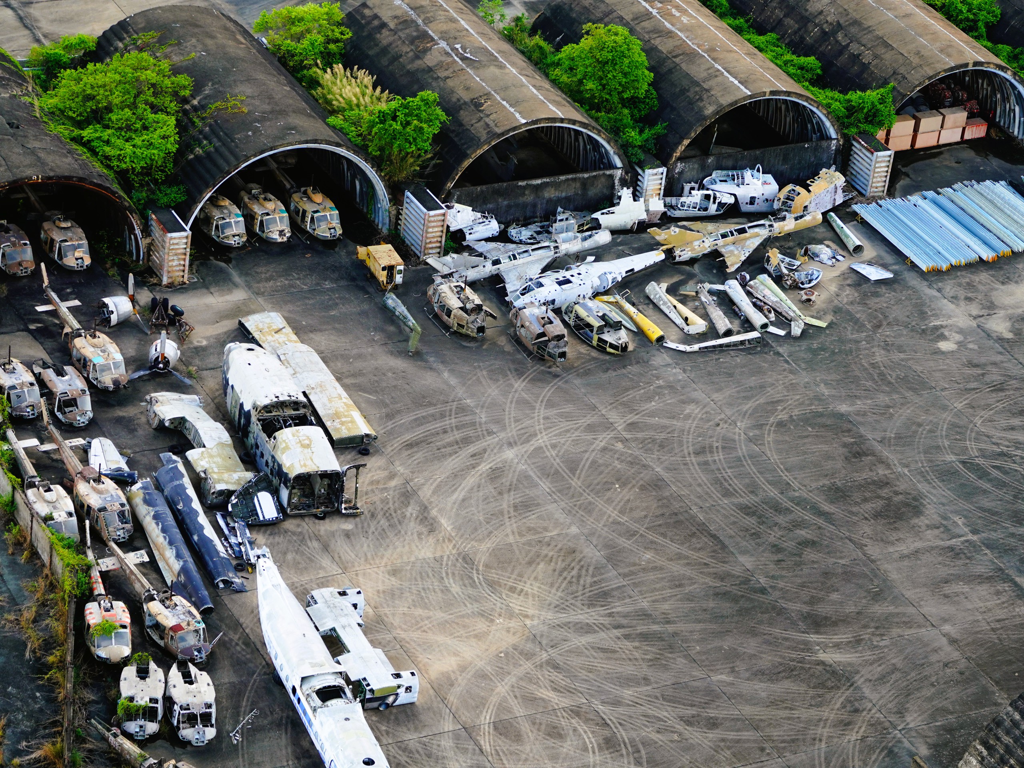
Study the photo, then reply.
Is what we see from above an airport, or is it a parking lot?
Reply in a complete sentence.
What you see here is an airport.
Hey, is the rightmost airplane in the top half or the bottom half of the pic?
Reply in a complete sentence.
It is in the top half that the rightmost airplane appears.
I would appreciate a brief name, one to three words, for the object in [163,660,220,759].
helicopter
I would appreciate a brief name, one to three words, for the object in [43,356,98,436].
helicopter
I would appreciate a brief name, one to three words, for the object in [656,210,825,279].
airplane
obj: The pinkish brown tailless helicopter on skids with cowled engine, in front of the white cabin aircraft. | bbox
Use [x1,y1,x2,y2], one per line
[493,298,570,367]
